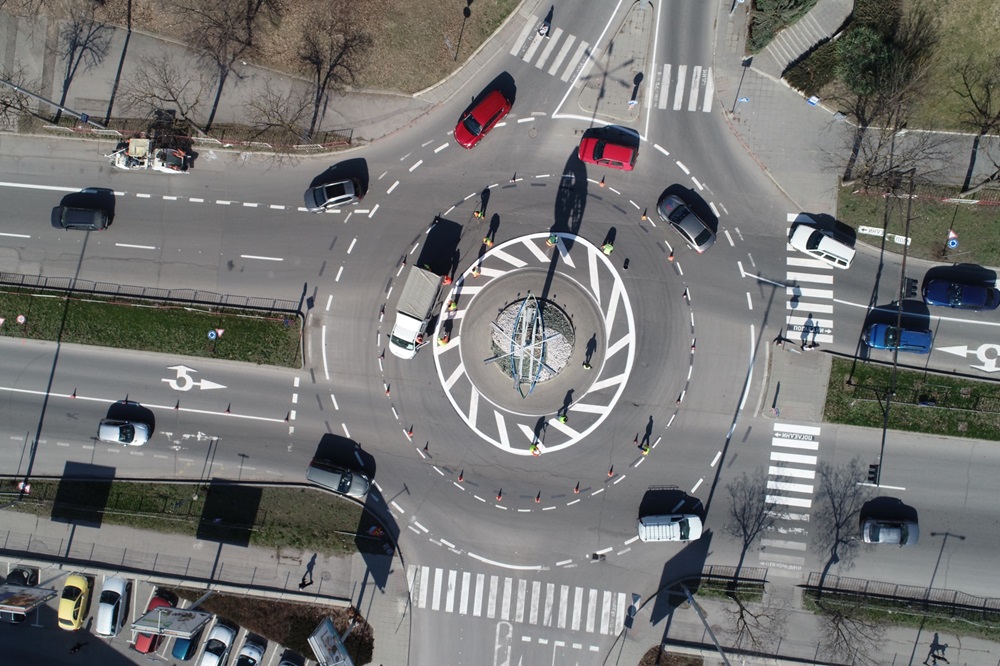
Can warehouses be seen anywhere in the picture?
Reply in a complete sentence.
No, no warehouse is visible in the scene.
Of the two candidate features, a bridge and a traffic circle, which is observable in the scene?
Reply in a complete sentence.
Looking from above, you can make out a traffic circle.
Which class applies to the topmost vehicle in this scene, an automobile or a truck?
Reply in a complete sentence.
The topmost vehicle can be classified as an automobile.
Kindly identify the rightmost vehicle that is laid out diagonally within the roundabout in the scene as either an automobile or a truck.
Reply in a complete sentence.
I'd say the rightmost vehicle that is laid out diagonally within the roundabout is an automobile.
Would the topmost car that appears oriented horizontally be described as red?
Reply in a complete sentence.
Yes, the topmost car that appears oriented horizontally is red.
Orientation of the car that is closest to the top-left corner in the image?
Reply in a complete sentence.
What the image shows is the car that is closest to the top-left corner lying from left to right.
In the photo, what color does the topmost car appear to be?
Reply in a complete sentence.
The color of the topmost car is red.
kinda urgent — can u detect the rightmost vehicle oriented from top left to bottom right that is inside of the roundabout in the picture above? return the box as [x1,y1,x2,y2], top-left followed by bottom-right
[651,195,721,258]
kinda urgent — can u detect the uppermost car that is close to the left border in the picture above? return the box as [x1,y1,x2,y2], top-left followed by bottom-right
[49,201,113,235]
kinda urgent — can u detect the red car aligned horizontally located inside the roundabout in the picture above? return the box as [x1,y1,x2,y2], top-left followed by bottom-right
[576,136,640,170]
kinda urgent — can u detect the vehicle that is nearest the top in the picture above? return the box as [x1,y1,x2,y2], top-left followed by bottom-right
[454,85,515,149]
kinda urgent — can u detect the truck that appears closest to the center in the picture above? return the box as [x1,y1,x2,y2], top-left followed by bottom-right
[385,266,441,358]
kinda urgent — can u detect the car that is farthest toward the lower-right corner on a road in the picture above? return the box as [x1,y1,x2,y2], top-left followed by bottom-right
[859,516,919,549]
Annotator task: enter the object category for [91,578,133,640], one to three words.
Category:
car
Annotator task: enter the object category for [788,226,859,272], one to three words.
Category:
car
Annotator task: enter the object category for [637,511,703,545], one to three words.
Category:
vehicle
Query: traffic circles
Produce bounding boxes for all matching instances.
[327,124,749,562]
